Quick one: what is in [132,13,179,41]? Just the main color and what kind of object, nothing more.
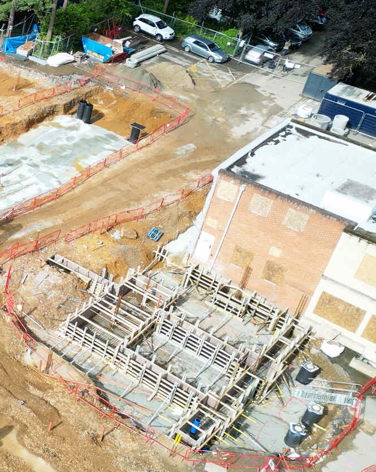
white car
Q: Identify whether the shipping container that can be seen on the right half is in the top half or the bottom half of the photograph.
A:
top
